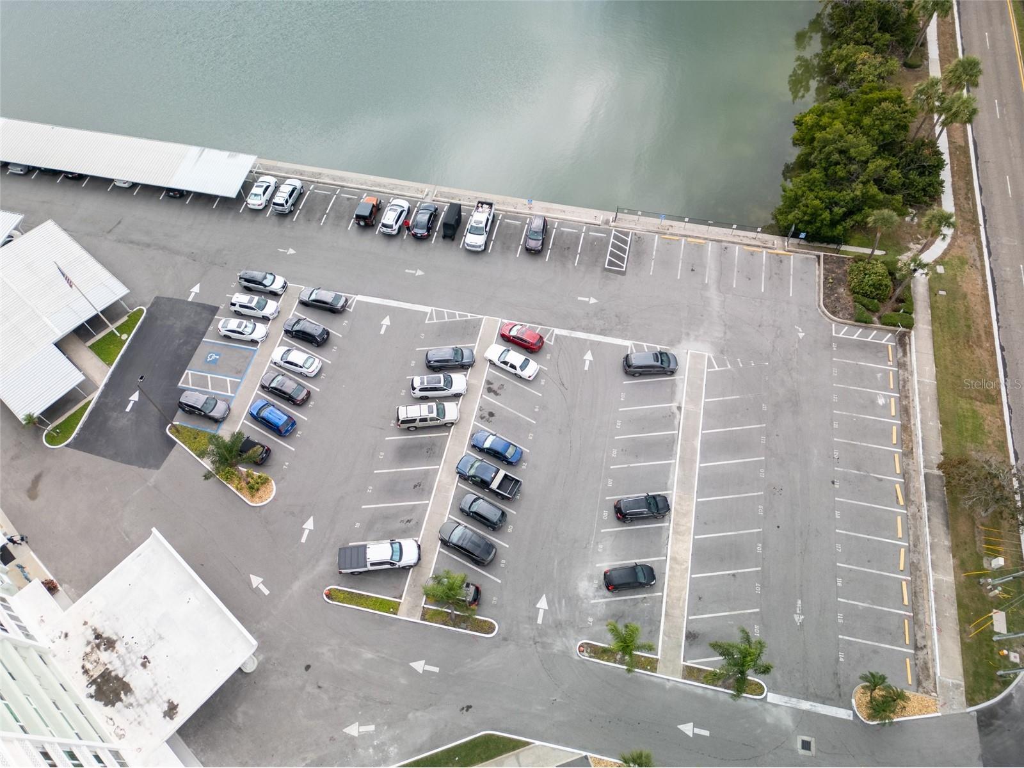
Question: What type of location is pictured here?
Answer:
parking lot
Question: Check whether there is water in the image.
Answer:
Yes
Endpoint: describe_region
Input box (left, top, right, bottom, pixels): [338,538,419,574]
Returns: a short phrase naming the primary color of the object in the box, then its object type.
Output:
white truck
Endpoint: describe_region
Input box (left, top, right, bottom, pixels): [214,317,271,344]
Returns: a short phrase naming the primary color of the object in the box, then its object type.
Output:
white car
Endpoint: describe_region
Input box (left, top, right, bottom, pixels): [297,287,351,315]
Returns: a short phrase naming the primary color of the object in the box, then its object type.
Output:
gray car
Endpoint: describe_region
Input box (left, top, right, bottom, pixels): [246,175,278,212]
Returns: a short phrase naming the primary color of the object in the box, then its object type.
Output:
white car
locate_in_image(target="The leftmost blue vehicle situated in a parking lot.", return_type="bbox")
[245,399,301,438]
